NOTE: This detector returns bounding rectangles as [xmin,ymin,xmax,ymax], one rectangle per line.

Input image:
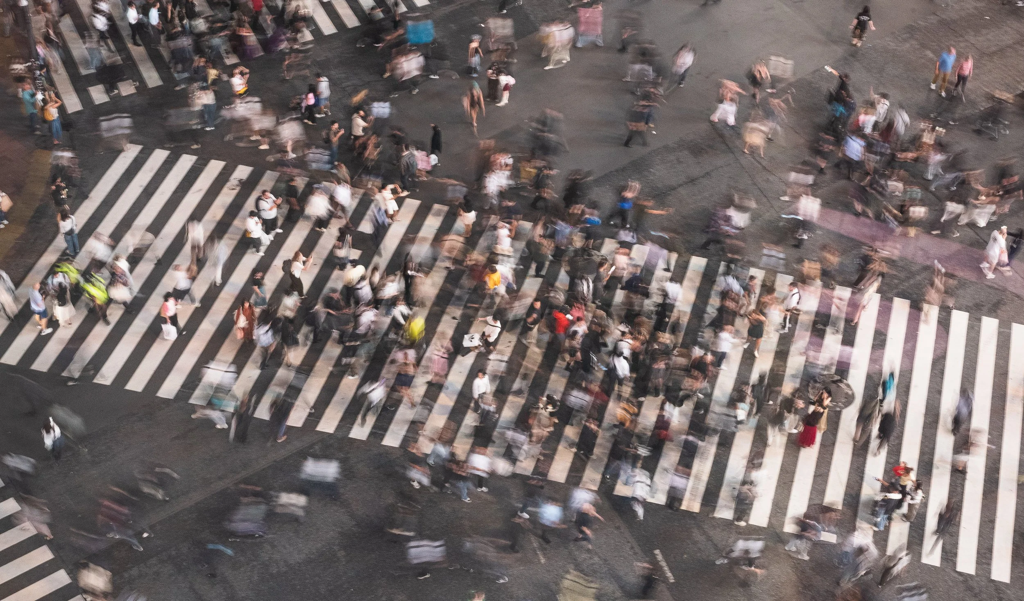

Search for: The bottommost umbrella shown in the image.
[806,381,854,421]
